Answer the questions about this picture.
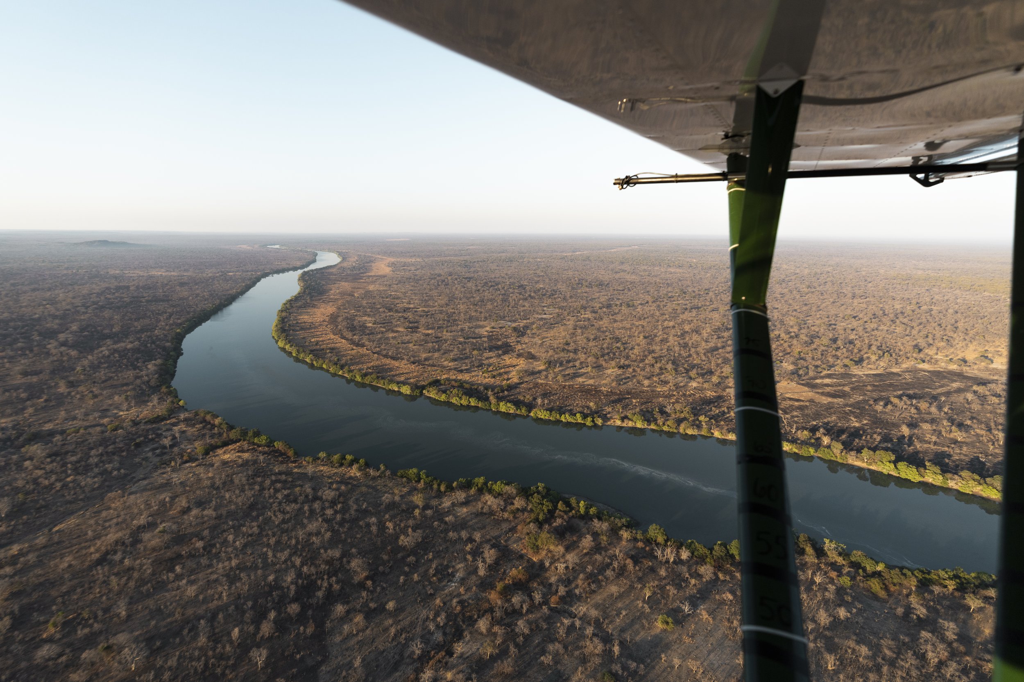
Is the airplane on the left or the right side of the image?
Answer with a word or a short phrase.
right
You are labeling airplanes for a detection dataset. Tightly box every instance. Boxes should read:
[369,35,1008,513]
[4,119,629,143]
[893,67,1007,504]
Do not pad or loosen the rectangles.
[322,0,1024,682]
